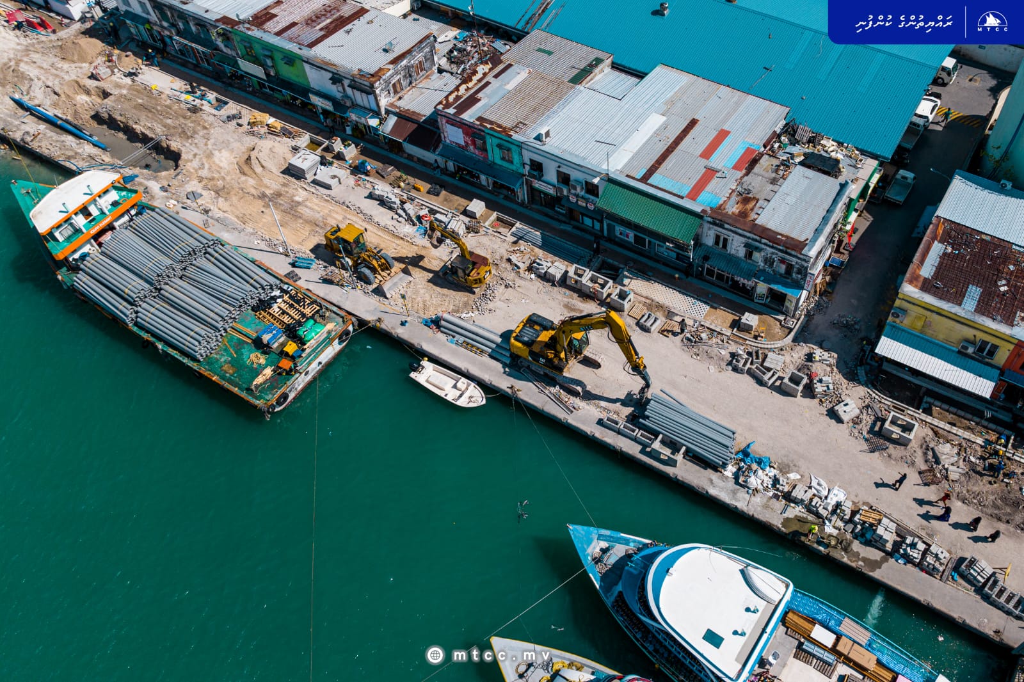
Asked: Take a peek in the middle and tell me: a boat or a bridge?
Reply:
boat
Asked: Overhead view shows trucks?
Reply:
Yes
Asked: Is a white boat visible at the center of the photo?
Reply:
Yes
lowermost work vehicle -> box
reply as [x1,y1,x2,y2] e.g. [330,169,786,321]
[507,309,649,405]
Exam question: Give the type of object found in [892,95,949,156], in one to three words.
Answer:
truck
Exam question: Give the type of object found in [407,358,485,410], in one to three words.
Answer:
boat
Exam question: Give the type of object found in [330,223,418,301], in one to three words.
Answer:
work vehicle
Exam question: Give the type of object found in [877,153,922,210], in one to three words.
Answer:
truck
